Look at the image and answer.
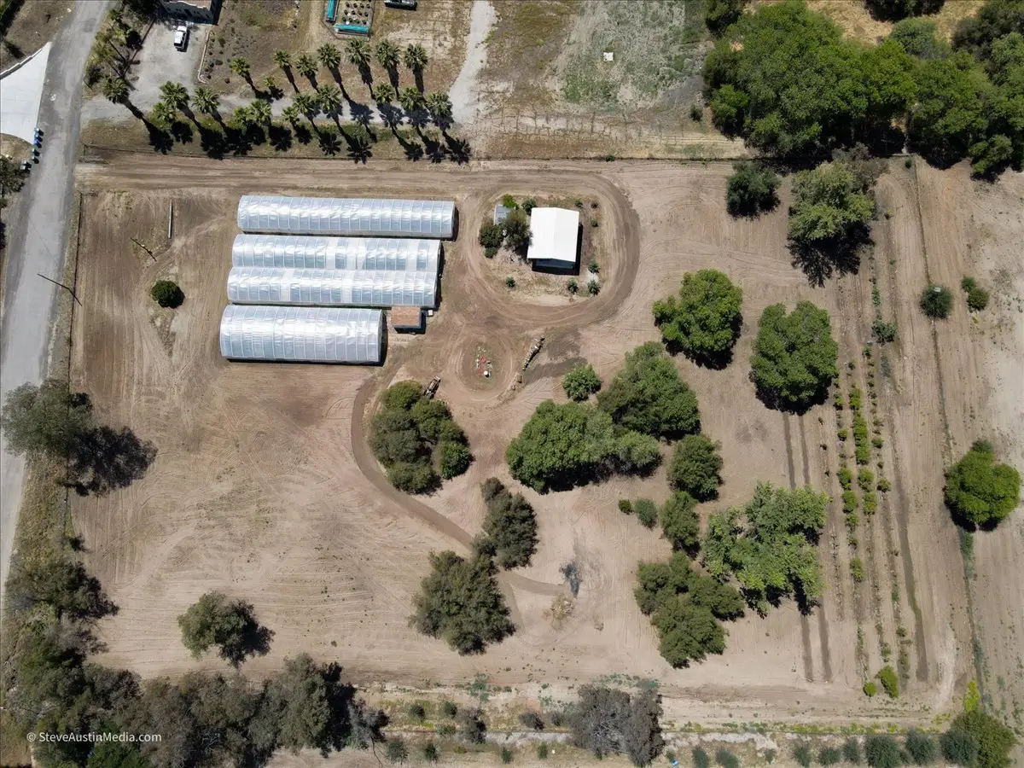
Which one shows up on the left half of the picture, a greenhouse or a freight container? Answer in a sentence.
Looking on the left half of the picture, you will find a greenhouse.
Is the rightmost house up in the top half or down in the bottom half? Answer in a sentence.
The rightmost house sits in the top half of the picture.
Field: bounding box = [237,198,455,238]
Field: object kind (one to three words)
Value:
greenhouse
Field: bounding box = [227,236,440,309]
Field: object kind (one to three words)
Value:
greenhouse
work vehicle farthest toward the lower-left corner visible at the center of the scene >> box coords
[425,375,443,399]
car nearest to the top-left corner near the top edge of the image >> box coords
[174,25,188,49]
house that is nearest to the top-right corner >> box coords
[527,208,579,266]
